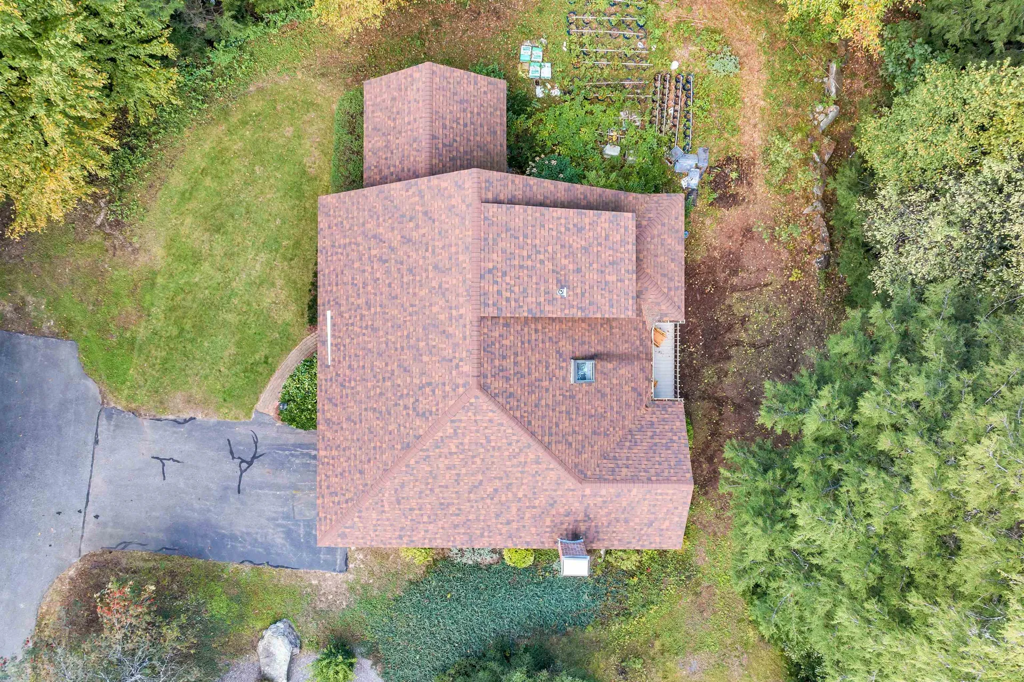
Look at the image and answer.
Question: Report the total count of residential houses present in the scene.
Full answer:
I count just 1 residential house.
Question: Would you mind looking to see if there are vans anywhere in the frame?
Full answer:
No, the frame has no van in it.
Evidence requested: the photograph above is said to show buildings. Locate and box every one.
[316,62,696,576]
